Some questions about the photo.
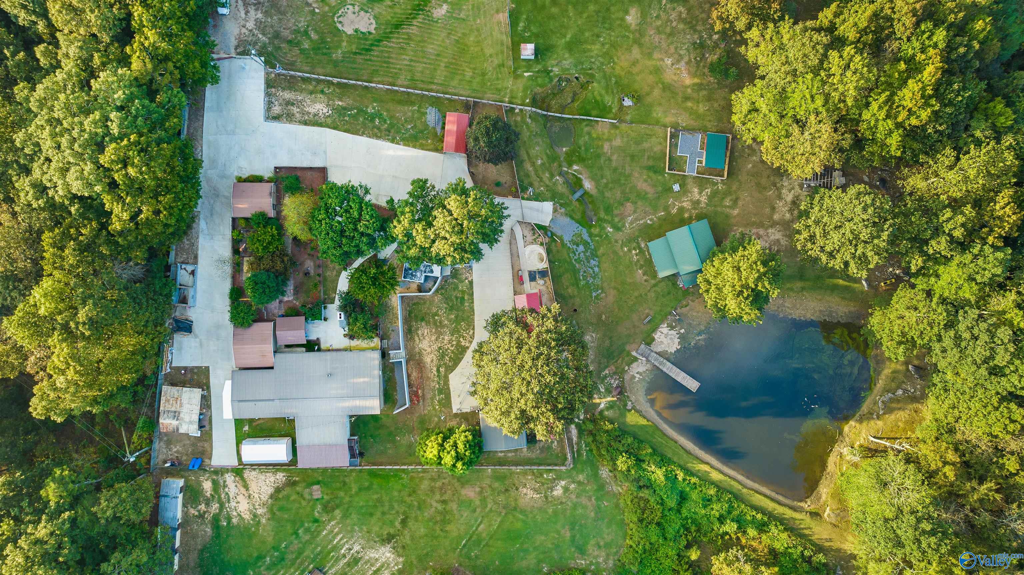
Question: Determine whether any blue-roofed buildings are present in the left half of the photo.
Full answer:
Yes, a blue-roofed building appears in the left half of the photo.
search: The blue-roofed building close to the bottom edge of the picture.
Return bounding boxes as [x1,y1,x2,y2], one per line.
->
[153,477,184,565]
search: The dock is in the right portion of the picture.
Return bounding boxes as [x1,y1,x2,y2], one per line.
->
[636,344,700,392]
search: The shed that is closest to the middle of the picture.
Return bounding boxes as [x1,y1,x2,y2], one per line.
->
[515,292,541,318]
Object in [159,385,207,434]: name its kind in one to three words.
shed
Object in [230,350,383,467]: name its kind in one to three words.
house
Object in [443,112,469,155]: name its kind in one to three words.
shed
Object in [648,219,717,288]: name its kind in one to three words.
building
